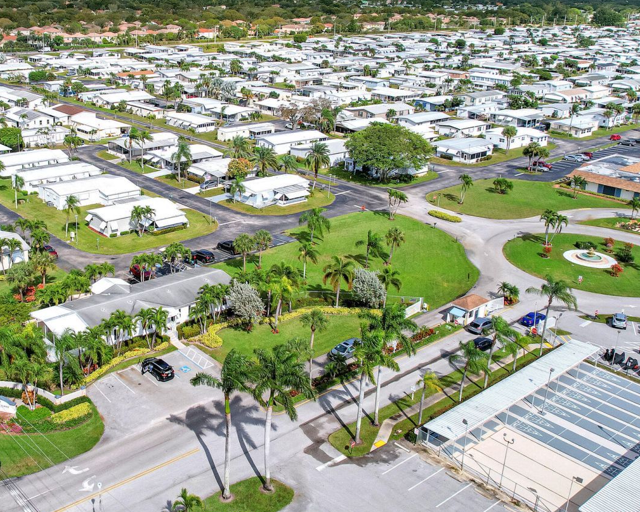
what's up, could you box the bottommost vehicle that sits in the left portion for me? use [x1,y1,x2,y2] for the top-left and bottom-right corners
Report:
[143,357,178,381]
